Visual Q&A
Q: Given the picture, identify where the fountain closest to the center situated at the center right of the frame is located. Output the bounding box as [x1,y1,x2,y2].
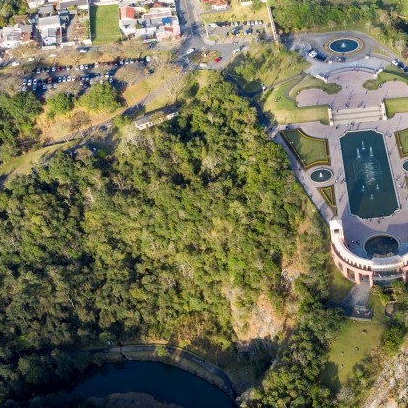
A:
[310,167,331,181]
